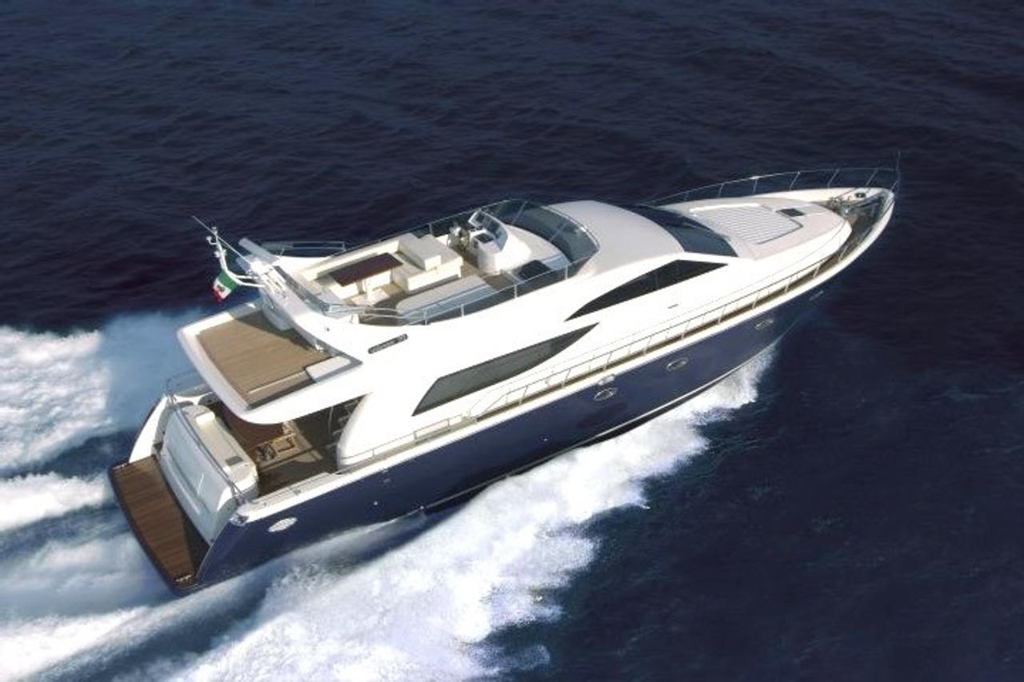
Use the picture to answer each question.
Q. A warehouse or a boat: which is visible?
boat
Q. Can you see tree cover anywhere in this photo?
No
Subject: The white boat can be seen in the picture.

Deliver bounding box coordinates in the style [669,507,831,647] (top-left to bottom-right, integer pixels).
[113,150,905,600]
